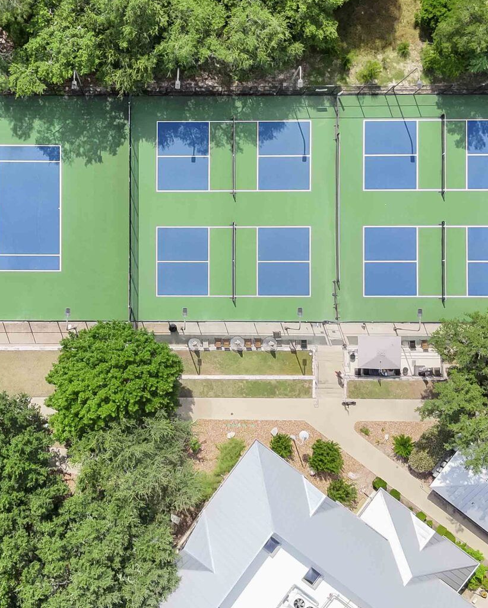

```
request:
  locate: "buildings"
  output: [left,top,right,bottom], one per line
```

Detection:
[428,425,488,529]
[137,441,484,608]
